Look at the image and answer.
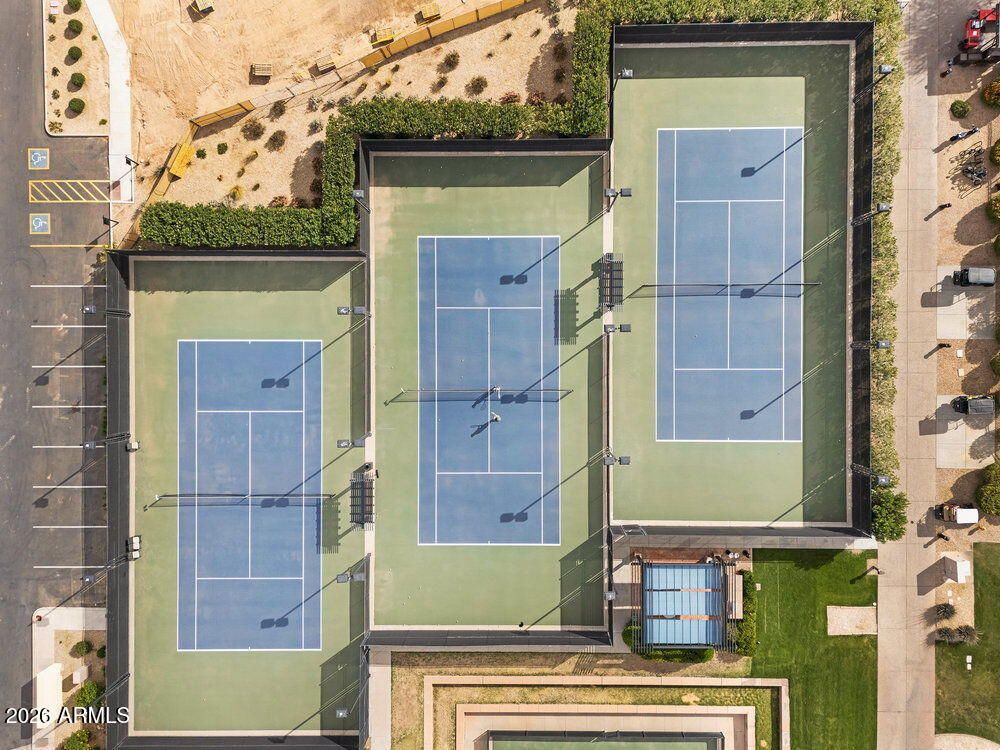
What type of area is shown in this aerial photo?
sports ground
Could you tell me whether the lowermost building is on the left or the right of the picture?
right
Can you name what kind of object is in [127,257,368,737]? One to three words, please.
tennis court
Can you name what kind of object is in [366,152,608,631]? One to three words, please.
tennis court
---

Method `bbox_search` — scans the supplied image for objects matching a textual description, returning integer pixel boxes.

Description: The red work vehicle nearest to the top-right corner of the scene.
[953,8,1000,52]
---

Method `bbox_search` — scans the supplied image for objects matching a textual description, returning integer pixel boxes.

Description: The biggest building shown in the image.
[630,553,738,651]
